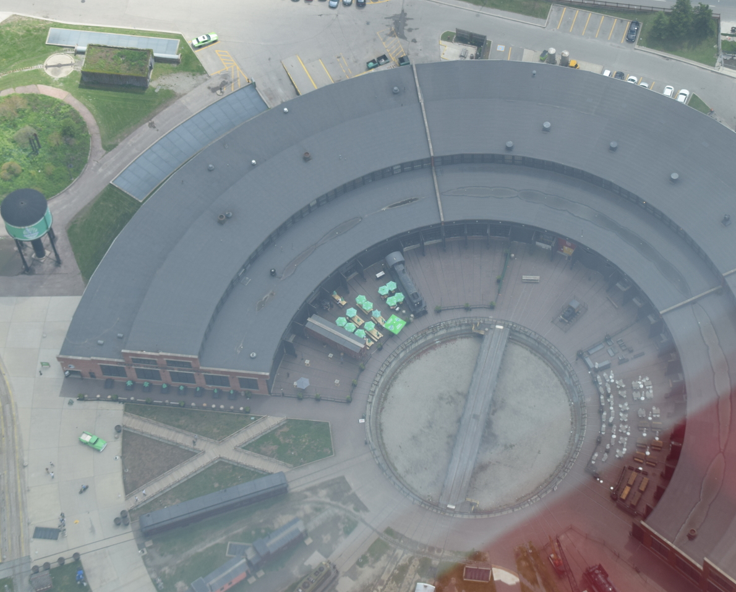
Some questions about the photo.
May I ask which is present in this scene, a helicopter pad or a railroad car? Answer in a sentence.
This aerial view contains a railroad car.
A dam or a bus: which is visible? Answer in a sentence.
This aerial view contains a bus.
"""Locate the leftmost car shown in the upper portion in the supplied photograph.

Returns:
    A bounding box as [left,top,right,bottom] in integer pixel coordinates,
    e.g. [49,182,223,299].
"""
[191,33,217,48]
